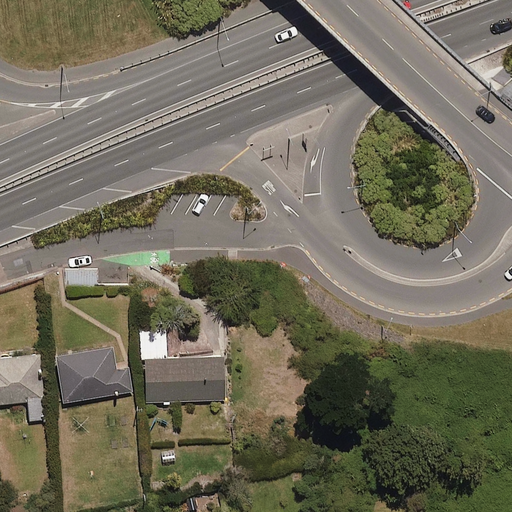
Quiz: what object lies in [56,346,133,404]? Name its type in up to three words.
house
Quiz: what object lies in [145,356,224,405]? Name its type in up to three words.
house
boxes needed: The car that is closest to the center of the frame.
[192,194,208,216]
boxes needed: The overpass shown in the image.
[295,0,512,210]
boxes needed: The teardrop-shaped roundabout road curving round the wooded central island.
[198,96,512,318]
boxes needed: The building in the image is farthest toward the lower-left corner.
[0,354,44,422]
